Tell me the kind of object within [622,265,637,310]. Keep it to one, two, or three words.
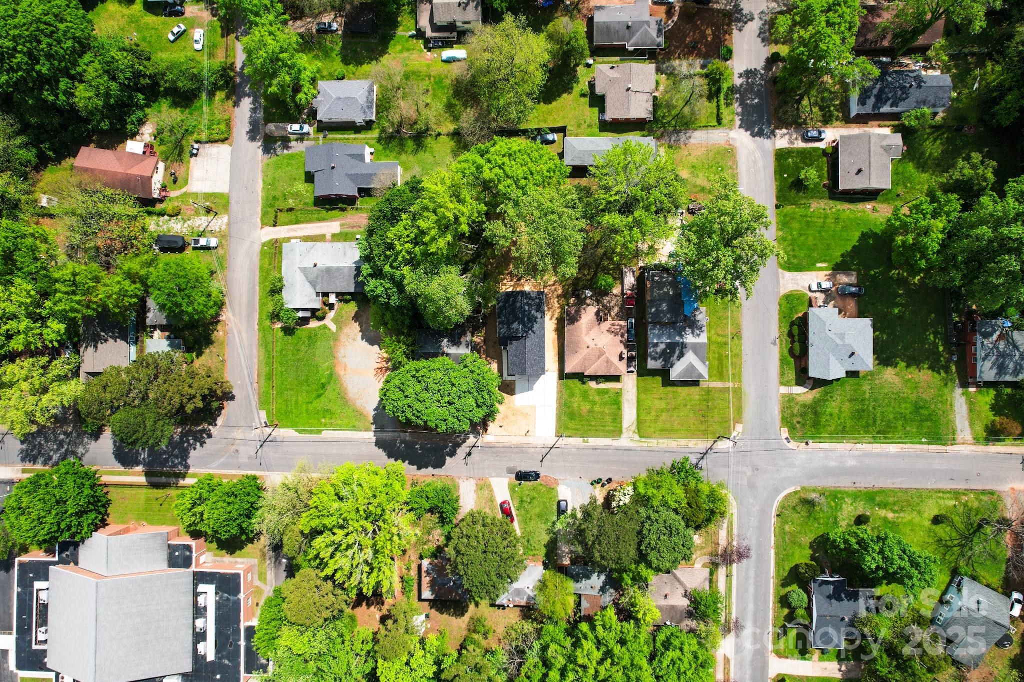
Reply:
vehicle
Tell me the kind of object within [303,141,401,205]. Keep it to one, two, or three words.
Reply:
house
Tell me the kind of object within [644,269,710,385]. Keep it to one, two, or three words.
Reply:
house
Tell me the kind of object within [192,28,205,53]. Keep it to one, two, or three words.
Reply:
vehicle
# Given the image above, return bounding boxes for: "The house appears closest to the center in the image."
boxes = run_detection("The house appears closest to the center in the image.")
[497,281,545,380]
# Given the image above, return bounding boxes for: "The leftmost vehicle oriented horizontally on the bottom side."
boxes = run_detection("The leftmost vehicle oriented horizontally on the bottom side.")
[514,470,541,483]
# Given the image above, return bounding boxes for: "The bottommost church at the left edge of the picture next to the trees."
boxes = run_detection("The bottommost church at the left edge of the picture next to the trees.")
[0,524,273,682]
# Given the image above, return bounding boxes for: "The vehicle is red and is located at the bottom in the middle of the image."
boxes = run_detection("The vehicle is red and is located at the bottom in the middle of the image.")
[499,499,515,524]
